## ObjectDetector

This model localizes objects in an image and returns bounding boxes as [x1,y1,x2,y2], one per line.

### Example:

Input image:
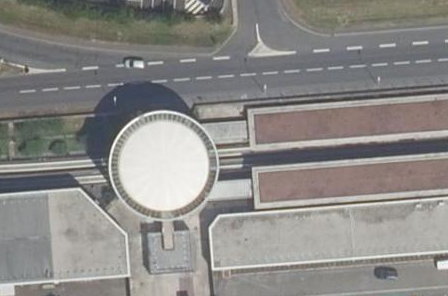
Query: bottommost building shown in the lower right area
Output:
[211,198,448,275]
